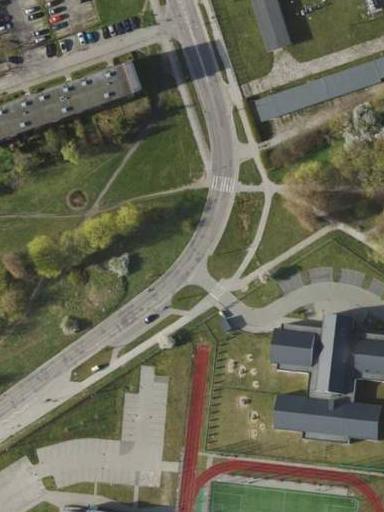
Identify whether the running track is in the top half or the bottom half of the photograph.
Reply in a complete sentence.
Seen from above, the running track lies in the bottom half of the view.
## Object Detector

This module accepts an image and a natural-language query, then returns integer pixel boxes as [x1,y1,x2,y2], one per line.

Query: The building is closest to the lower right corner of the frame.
[269,314,384,446]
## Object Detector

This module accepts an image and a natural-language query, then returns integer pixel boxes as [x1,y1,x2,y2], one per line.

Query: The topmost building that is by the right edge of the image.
[255,58,384,121]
